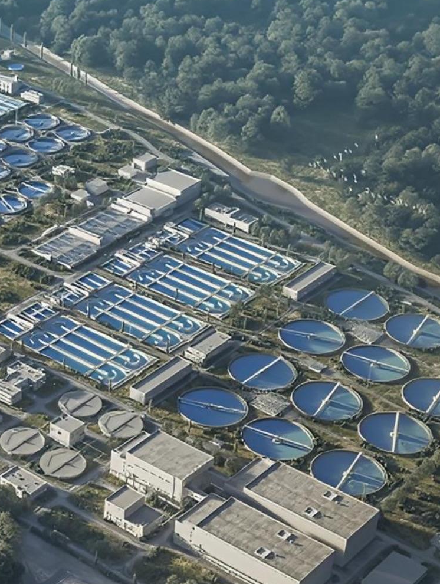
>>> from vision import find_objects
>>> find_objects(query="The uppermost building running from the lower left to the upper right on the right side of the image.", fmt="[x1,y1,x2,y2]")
[282,261,336,301]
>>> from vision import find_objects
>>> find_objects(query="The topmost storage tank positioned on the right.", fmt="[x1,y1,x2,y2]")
[324,288,389,322]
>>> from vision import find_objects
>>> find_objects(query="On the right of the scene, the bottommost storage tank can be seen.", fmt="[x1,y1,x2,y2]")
[311,451,387,497]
